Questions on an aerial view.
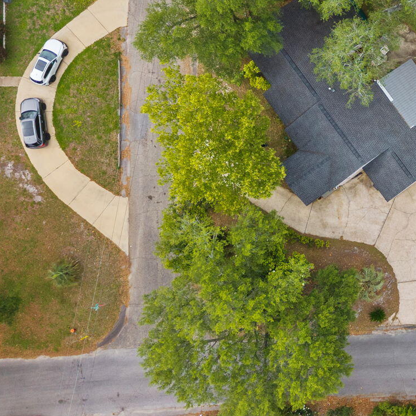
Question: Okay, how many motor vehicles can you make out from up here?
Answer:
2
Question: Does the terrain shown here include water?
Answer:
No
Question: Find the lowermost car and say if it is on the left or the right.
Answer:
left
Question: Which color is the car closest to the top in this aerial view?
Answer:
white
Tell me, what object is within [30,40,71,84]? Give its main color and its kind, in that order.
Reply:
white car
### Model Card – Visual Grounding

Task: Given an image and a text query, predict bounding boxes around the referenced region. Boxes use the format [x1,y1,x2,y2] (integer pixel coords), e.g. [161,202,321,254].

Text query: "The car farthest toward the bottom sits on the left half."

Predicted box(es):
[22,99,52,148]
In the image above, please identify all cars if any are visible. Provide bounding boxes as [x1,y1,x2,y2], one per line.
[22,99,52,148]
[30,40,71,84]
